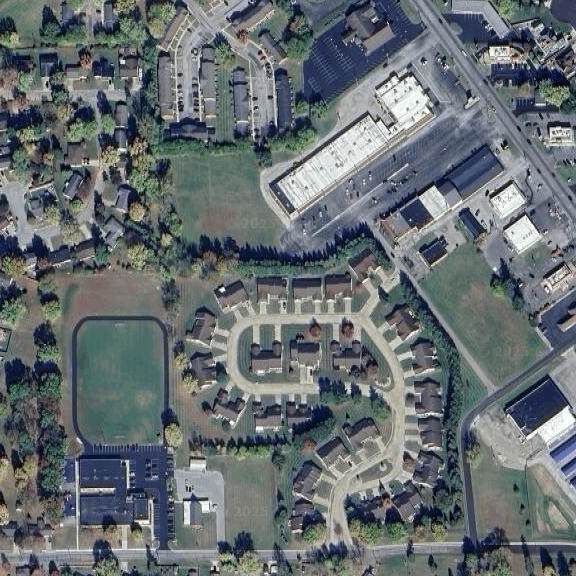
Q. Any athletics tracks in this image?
Yes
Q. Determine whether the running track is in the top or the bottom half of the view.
bottom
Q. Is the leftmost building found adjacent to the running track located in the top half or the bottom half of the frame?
bottom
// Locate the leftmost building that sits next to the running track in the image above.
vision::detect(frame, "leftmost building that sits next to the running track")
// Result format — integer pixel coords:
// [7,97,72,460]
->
[80,458,149,526]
